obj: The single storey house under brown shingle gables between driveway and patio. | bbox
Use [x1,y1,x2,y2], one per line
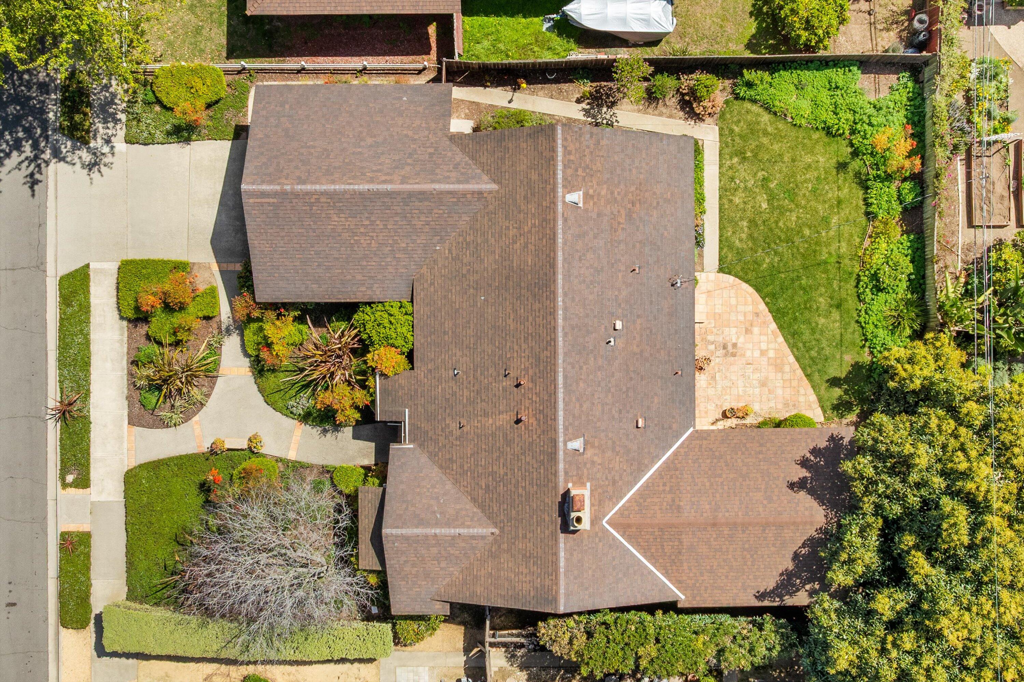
[241,85,874,615]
